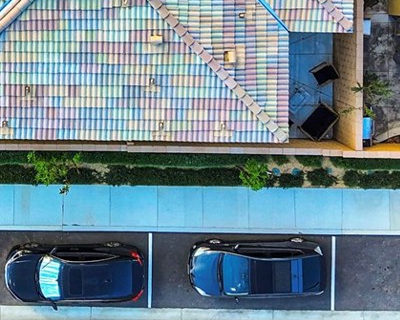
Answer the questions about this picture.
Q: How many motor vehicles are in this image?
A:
two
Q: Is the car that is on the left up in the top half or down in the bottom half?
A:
bottom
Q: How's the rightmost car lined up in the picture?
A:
from left to right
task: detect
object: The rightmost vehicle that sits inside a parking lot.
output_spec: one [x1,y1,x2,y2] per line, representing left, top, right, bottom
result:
[187,238,326,308]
